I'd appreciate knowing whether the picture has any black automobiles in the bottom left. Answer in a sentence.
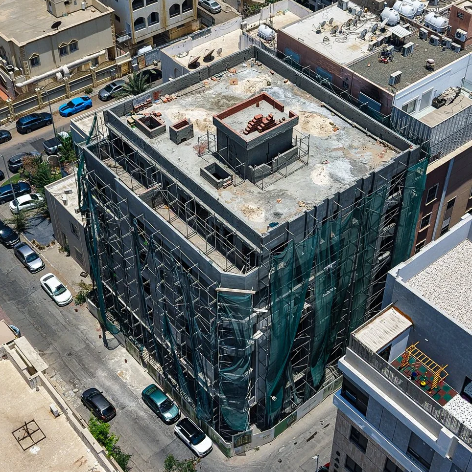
Yes, there is a black automobile in the bottom left.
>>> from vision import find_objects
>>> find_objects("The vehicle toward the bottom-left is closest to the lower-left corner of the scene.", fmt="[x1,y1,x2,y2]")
[78,387,121,423]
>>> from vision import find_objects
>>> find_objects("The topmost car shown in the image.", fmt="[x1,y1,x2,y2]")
[198,0,223,14]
